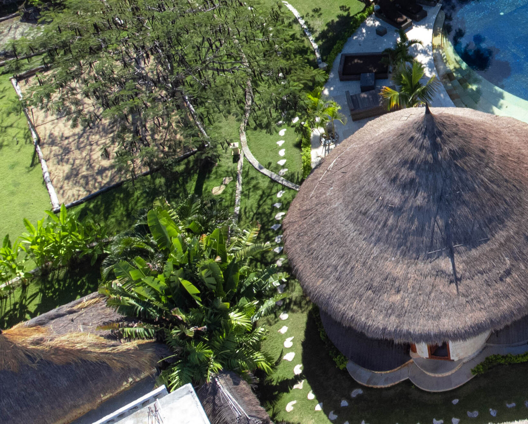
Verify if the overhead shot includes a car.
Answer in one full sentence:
No, there's no car here.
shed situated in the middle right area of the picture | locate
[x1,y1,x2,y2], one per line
[278,103,528,366]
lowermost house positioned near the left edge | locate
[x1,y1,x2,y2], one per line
[0,288,172,424]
